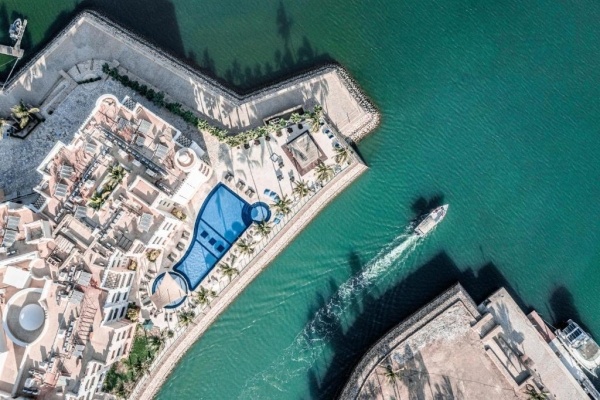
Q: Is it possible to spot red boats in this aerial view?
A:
No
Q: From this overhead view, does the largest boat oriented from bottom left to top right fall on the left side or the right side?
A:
right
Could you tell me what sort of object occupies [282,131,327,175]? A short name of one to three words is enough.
gazebo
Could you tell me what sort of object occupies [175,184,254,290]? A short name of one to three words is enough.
swimming pool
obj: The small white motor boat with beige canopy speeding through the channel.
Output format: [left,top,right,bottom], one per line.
[412,204,449,235]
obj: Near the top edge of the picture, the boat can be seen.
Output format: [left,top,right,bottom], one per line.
[12,14,25,33]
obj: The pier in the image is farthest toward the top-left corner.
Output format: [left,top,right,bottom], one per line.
[0,20,30,59]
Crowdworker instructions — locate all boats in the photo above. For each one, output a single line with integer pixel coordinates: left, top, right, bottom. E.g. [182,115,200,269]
[550,313,600,377]
[412,204,449,235]
[12,14,25,33]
